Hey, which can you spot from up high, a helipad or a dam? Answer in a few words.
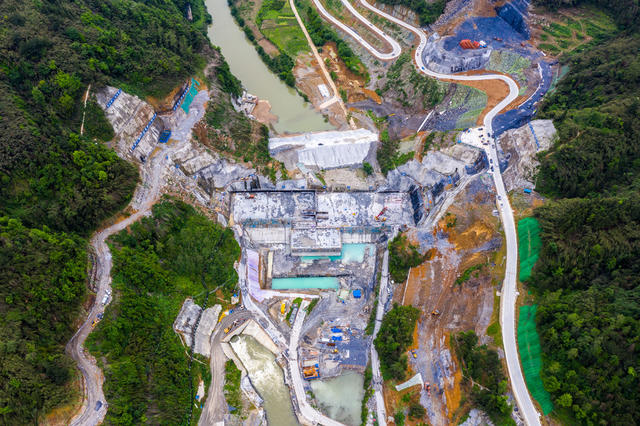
dam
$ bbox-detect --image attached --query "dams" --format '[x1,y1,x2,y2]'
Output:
[232,191,411,254]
